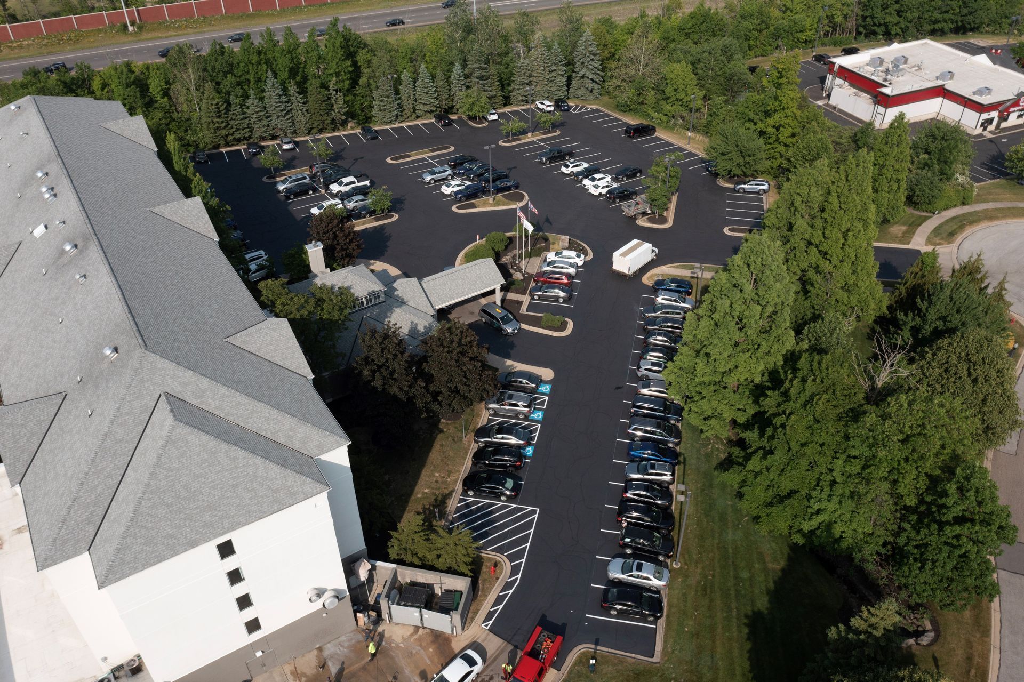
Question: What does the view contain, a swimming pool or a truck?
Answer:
truck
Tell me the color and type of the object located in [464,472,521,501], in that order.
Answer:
black car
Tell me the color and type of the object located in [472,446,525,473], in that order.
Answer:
black car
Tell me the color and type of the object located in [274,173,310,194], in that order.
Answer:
gray car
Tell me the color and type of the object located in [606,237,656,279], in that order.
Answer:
white truck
